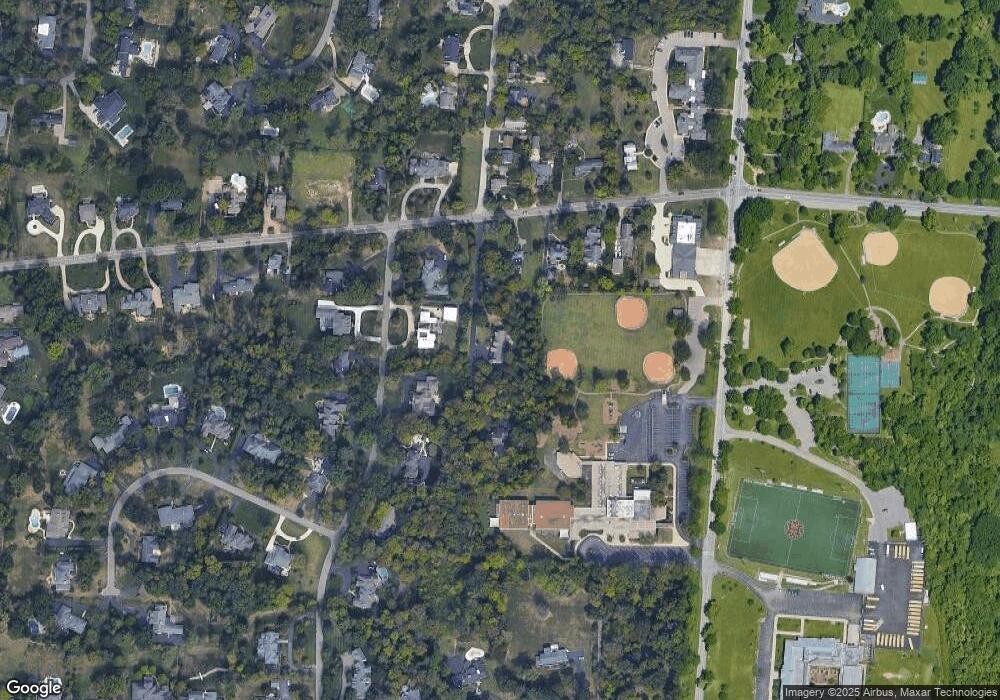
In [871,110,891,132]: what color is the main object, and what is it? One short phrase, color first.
white swimming pool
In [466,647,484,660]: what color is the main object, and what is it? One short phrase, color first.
white swimming pool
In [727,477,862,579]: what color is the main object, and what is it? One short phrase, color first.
green soccer field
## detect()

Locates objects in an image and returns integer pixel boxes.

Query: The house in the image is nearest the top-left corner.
[37,16,57,56]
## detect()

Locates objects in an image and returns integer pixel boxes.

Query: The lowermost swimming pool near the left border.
[28,617,45,635]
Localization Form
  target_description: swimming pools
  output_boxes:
[141,39,159,65]
[231,174,247,192]
[164,385,182,397]
[28,509,40,533]
[2,400,20,424]
[114,122,134,141]
[466,647,484,660]
[421,87,438,105]
[378,567,389,582]
[834,2,850,17]
[871,110,891,132]
[28,617,45,635]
